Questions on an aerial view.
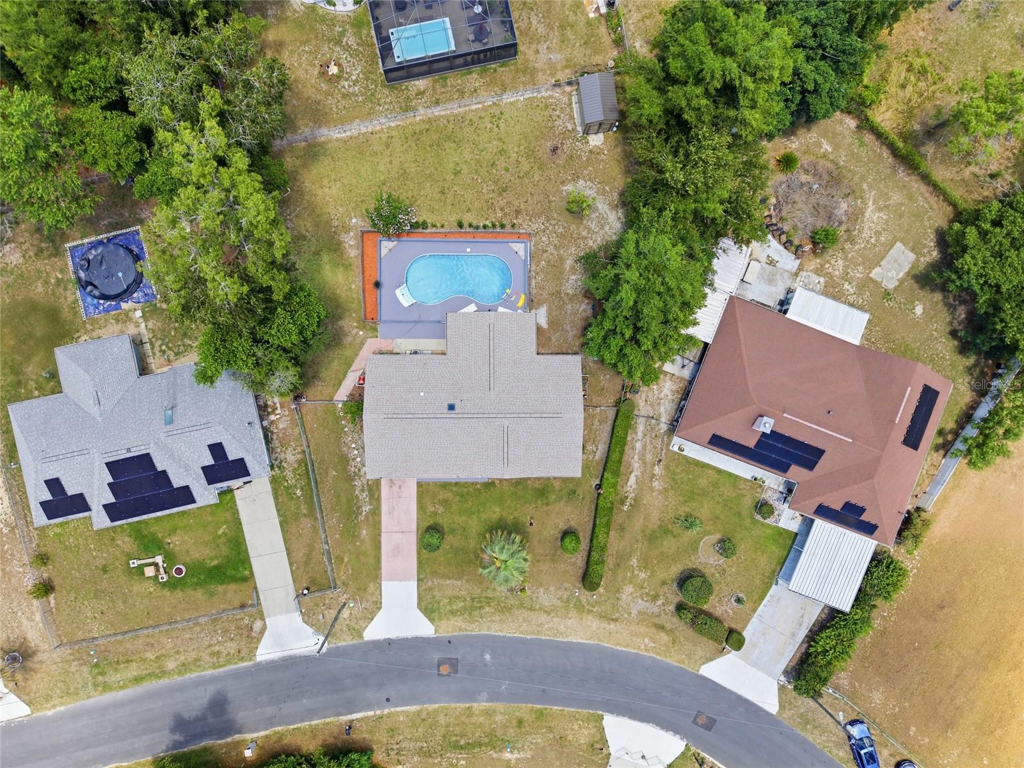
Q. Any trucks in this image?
No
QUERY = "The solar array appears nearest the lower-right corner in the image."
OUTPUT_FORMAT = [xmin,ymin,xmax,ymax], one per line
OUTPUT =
[815,502,877,535]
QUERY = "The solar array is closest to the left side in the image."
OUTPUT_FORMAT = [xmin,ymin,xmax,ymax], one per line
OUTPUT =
[39,479,90,521]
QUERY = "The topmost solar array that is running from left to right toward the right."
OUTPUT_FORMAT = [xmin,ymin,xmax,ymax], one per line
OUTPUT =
[707,433,825,474]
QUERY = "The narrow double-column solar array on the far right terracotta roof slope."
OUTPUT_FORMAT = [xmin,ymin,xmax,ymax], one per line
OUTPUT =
[900,384,935,451]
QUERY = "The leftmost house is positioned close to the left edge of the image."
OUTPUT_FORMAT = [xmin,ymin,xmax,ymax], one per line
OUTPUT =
[6,333,275,530]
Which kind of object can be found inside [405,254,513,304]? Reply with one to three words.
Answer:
swimming pool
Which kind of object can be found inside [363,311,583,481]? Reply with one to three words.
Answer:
house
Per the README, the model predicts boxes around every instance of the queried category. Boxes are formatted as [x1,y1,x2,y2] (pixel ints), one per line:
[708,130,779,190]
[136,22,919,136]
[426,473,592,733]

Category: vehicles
[849,718,888,768]
[896,760,920,768]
